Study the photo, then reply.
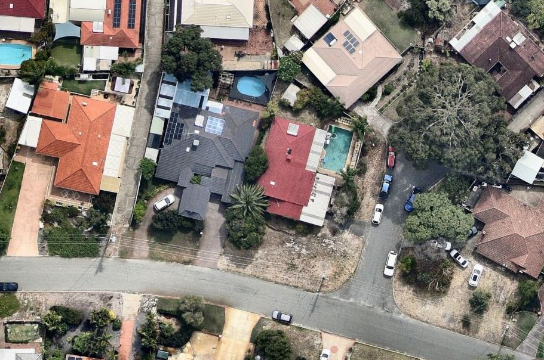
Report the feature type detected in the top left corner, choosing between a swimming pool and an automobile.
swimming pool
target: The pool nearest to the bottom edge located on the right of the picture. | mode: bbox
[321,124,355,172]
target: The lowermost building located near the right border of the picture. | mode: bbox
[472,183,544,275]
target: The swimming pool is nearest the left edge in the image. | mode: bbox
[0,42,34,66]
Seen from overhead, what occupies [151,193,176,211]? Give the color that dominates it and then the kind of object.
white car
